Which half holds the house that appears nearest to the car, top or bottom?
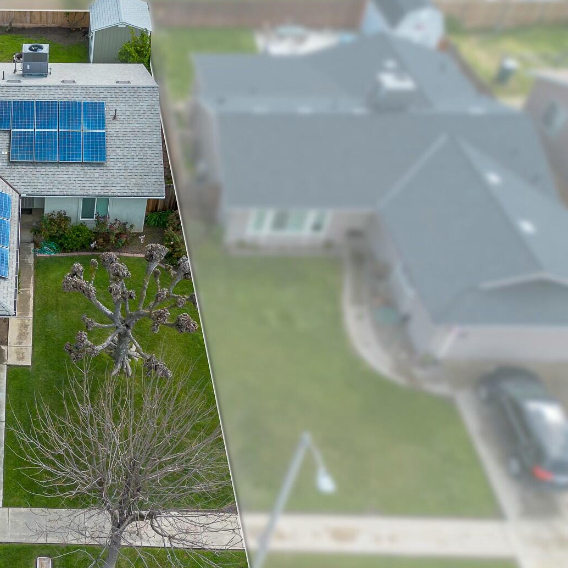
top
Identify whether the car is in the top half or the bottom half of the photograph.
bottom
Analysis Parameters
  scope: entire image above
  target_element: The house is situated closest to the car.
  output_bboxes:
[188,25,568,365]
